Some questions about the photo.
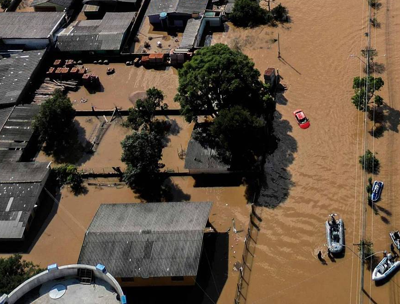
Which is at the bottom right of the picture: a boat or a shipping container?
boat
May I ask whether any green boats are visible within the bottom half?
No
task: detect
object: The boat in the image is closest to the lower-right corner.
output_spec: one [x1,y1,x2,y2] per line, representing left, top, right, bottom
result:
[371,250,400,281]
